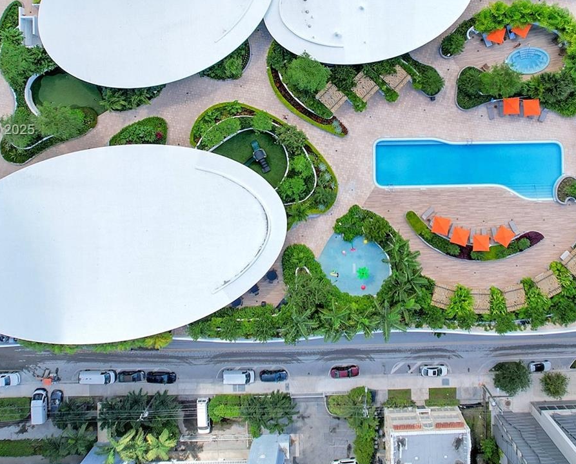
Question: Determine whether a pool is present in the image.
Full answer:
Yes, the frame does contain a pool.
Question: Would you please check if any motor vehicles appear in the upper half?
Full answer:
No, there is no motor vehicle in the upper half.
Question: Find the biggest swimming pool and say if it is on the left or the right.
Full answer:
It is on the right.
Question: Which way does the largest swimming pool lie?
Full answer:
In this picture, the largest swimming pool lies from left to right.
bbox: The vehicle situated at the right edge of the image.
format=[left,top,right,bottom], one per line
[527,359,551,373]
